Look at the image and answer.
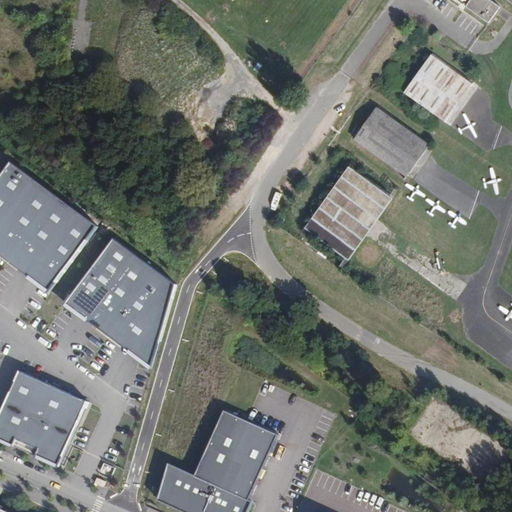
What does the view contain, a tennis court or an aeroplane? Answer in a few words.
aeroplane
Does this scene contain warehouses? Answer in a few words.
Yes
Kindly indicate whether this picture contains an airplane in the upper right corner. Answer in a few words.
Yes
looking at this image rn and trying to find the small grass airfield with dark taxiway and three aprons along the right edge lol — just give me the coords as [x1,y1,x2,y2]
[369,84,512,370]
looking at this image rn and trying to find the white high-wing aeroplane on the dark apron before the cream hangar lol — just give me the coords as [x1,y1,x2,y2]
[458,113,478,137]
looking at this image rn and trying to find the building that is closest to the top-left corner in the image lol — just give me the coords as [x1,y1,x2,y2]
[0,162,98,294]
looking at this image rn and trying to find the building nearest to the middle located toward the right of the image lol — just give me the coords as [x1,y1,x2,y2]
[305,167,392,262]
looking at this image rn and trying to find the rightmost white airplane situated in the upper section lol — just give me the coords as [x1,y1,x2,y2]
[482,166,502,194]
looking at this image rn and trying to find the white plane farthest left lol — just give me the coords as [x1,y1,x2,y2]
[404,183,426,202]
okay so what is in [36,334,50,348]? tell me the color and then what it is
white vehicle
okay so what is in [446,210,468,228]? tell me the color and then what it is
white airplane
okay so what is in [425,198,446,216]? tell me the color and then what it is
white airplane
